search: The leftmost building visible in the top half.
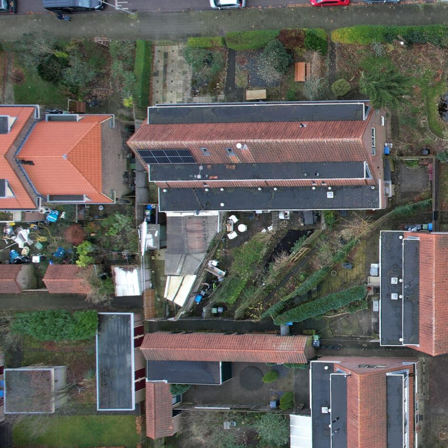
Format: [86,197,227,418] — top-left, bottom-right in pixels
[0,105,71,212]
